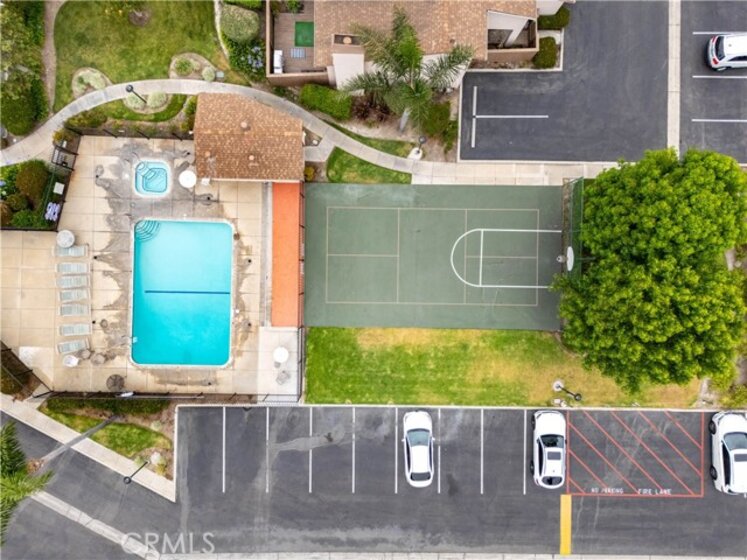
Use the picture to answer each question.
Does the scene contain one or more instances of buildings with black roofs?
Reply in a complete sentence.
No, the frame has no building with a black roof in it.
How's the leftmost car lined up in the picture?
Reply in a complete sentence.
The leftmost car has been laid out up and down relative to the frame.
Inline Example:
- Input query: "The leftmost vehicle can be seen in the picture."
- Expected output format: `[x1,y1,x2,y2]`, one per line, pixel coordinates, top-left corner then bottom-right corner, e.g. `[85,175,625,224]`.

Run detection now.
[400,409,437,491]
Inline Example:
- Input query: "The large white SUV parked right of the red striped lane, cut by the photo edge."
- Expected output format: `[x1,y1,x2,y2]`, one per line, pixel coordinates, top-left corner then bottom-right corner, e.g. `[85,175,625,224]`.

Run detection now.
[708,408,747,495]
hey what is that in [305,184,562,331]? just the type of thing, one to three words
sports court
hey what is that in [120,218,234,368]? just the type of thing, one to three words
swimming pool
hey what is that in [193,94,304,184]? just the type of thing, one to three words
building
